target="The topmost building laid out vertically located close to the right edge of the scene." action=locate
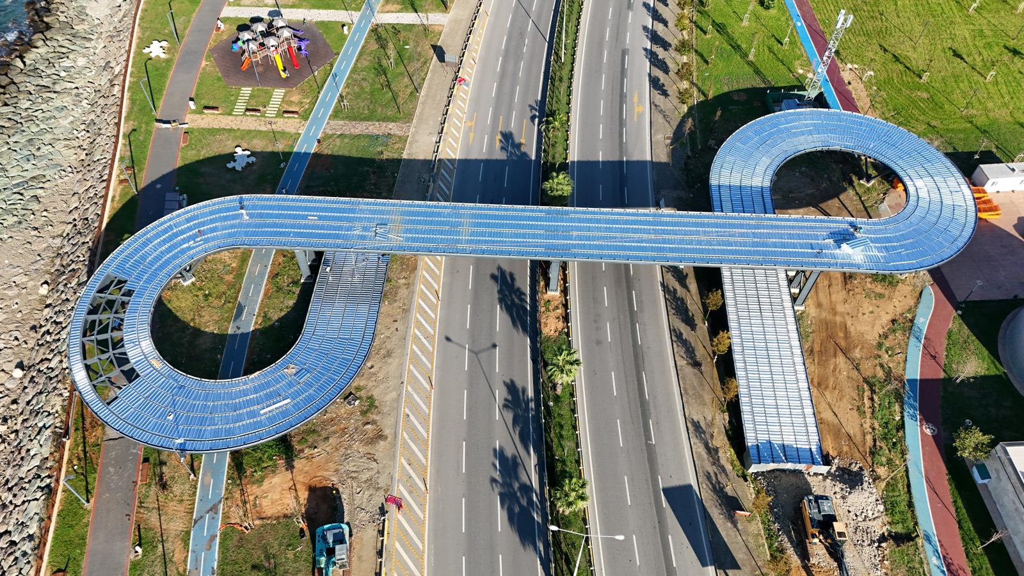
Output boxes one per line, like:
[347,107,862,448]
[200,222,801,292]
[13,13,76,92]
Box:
[986,307,1024,394]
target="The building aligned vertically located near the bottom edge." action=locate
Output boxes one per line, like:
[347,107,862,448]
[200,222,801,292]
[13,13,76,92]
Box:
[975,441,1024,551]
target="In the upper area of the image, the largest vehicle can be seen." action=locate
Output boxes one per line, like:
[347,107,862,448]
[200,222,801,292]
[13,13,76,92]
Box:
[157,191,195,211]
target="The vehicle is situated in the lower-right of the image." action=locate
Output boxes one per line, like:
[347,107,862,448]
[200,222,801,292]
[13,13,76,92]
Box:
[793,495,850,576]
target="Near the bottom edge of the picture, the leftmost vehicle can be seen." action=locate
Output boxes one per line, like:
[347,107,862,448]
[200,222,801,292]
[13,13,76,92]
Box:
[313,523,355,576]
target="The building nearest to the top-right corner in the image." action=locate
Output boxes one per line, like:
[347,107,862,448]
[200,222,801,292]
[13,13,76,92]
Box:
[973,162,1024,192]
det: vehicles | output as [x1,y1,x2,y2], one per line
[793,495,850,576]
[313,523,355,576]
[157,191,195,211]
